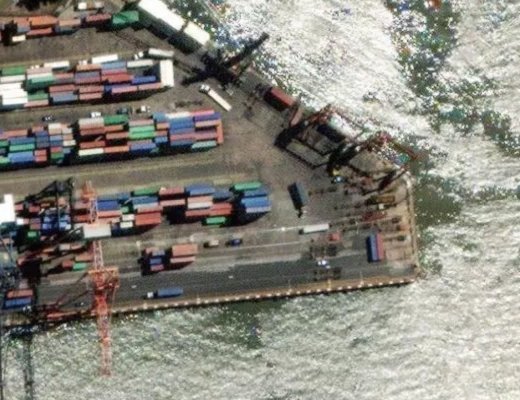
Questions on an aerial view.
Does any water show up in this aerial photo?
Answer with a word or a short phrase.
Yes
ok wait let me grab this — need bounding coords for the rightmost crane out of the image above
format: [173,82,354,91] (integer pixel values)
[352,112,427,178]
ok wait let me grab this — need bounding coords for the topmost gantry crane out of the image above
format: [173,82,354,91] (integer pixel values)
[200,29,273,95]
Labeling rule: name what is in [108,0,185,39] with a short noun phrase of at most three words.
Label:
shed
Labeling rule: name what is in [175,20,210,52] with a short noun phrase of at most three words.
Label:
shed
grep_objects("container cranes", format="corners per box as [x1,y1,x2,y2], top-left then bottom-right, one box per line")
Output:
[301,88,380,156]
[45,181,116,376]
[200,29,273,95]
[352,112,427,178]
[0,237,12,400]
[35,179,75,253]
